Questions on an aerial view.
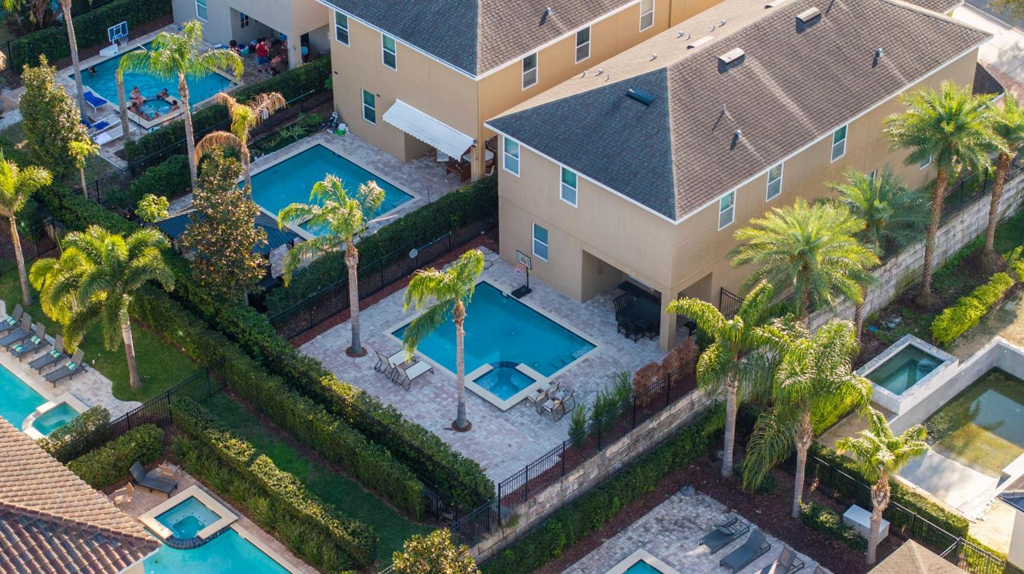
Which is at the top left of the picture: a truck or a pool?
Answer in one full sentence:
The feature located at the top left of the picture is a pool.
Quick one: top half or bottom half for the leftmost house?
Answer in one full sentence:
The leftmost house sits in the bottom half of the picture.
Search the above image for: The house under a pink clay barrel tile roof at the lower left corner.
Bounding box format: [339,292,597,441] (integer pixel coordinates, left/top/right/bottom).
[0,409,164,574]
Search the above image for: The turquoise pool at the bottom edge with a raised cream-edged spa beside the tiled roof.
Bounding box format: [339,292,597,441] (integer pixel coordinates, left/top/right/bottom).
[136,483,306,574]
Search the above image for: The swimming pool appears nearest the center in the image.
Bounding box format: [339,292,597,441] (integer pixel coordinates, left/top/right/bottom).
[380,274,607,410]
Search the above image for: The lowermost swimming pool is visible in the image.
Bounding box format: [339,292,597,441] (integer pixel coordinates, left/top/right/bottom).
[608,549,680,574]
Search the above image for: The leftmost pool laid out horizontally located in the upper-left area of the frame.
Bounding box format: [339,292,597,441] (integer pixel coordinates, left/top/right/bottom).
[59,37,241,125]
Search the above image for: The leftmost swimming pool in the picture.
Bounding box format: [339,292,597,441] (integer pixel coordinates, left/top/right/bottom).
[0,355,94,449]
